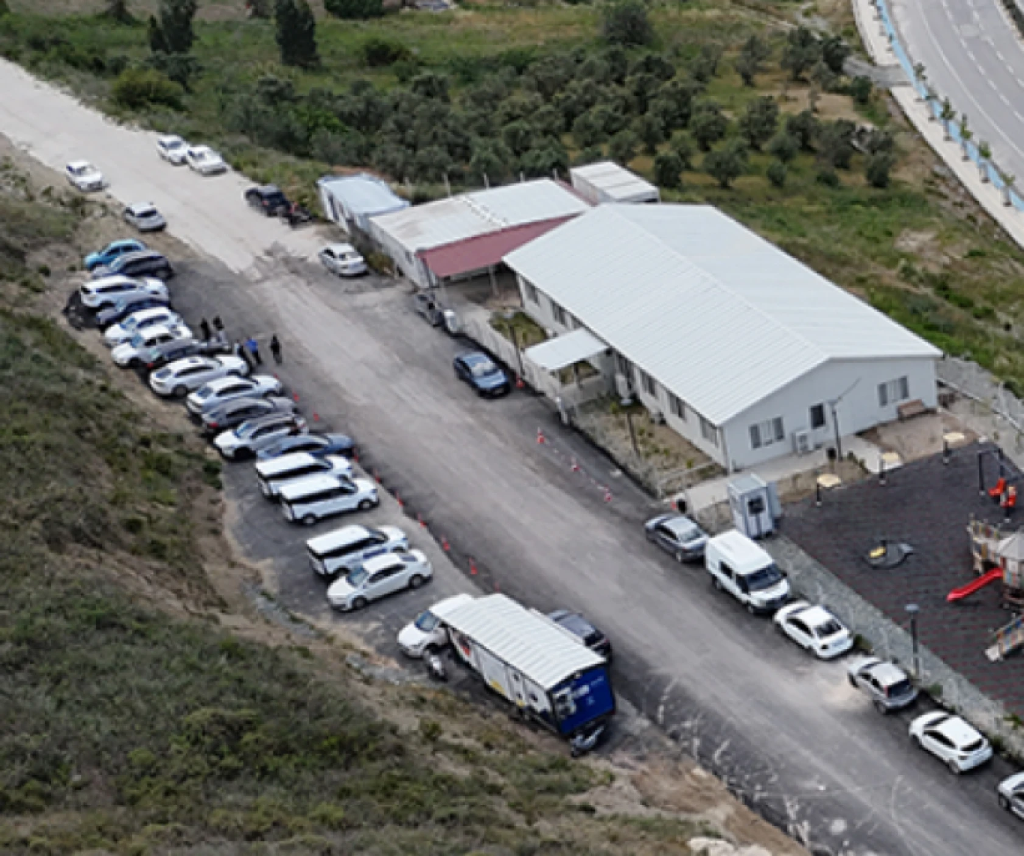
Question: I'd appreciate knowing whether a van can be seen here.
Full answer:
Yes, I can see a van in this picture.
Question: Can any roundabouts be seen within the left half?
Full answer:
No, there is no roundabout within the left half.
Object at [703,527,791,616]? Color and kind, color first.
white van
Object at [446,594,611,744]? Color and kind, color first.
white trailer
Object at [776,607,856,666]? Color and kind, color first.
white car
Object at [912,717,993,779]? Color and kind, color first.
white car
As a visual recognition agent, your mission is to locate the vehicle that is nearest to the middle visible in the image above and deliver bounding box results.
[448,357,516,403]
